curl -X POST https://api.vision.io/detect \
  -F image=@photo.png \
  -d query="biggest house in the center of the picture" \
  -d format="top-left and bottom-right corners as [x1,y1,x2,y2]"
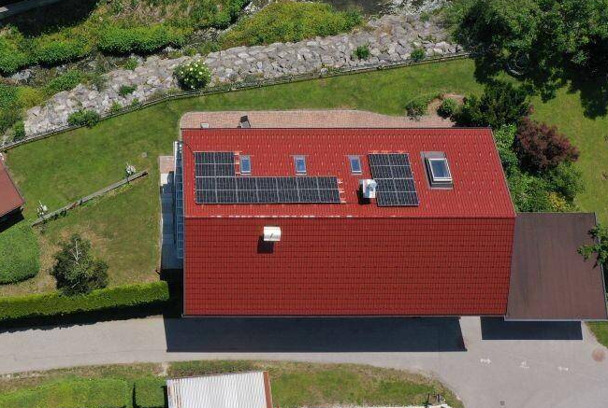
[182,127,516,317]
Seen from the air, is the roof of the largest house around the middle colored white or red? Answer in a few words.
red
